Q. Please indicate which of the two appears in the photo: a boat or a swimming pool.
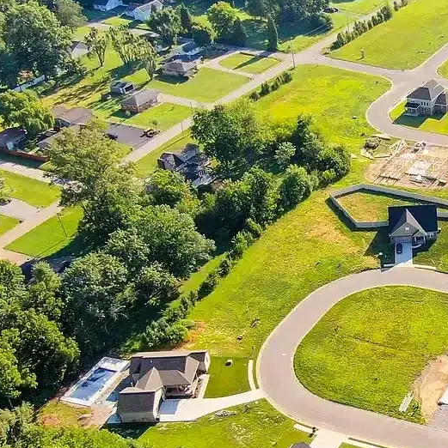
swimming pool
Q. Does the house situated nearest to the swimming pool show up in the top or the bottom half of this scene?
bottom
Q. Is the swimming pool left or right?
left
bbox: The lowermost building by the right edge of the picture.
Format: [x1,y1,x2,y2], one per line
[386,205,439,247]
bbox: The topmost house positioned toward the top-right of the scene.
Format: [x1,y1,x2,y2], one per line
[401,79,448,117]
